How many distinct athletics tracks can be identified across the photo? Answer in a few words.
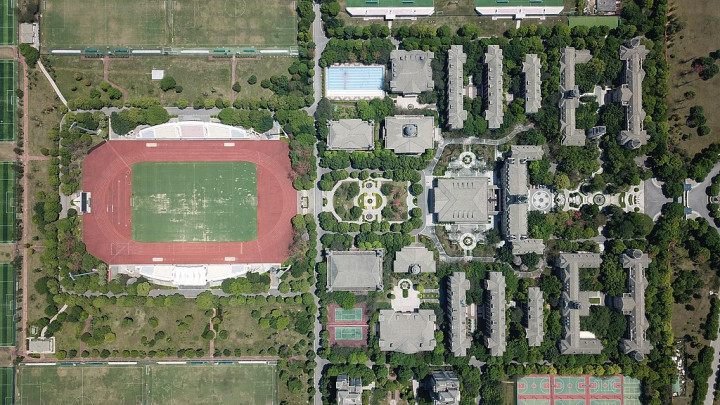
1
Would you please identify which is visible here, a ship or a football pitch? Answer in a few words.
football pitch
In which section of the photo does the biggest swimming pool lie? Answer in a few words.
top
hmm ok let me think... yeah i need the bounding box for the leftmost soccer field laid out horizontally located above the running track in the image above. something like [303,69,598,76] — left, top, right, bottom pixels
[40,0,168,49]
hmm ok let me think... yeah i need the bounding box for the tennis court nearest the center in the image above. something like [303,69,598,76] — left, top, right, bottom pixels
[328,306,368,324]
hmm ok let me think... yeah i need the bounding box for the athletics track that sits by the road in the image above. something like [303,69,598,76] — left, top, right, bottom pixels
[82,141,297,264]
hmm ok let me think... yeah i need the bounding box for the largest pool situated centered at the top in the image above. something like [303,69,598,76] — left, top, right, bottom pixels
[325,64,385,98]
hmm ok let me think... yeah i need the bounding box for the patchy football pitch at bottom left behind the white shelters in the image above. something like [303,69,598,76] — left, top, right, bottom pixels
[16,364,147,405]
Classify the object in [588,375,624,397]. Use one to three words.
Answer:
basketball court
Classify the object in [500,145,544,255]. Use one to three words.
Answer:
building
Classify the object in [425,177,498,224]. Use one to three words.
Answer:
building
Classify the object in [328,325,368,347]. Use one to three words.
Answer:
tennis court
